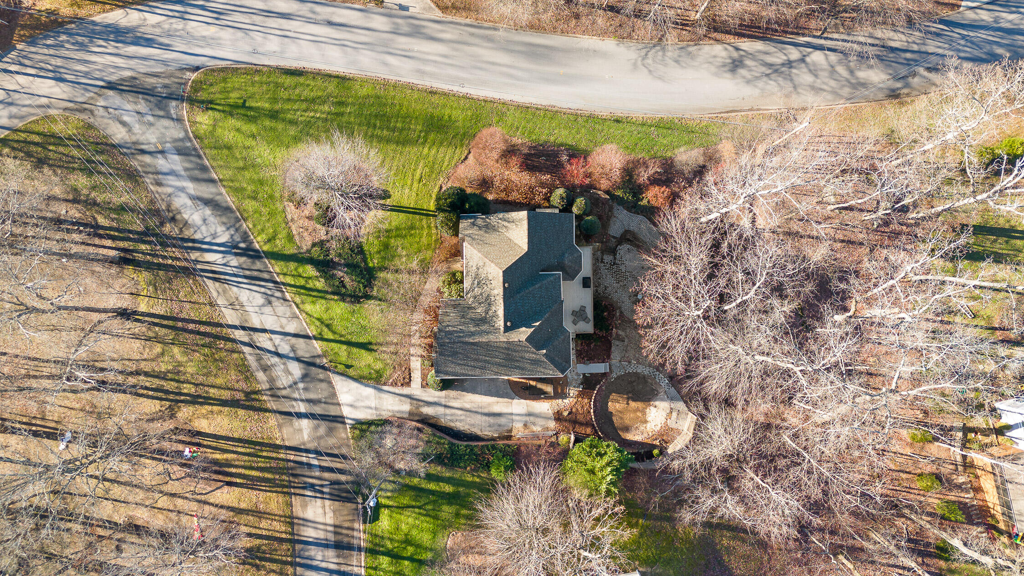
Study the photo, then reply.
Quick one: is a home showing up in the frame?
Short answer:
Yes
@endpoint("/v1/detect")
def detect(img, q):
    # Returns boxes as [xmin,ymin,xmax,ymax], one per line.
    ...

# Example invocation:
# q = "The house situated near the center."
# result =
[435,210,595,379]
